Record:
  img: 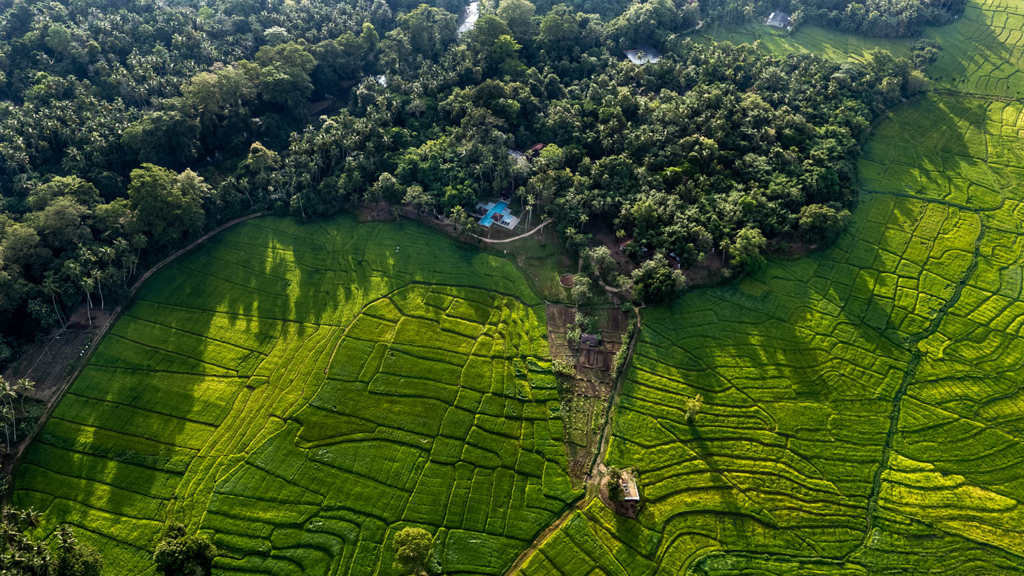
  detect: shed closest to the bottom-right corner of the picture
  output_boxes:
[620,468,640,505]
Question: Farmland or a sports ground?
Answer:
farmland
